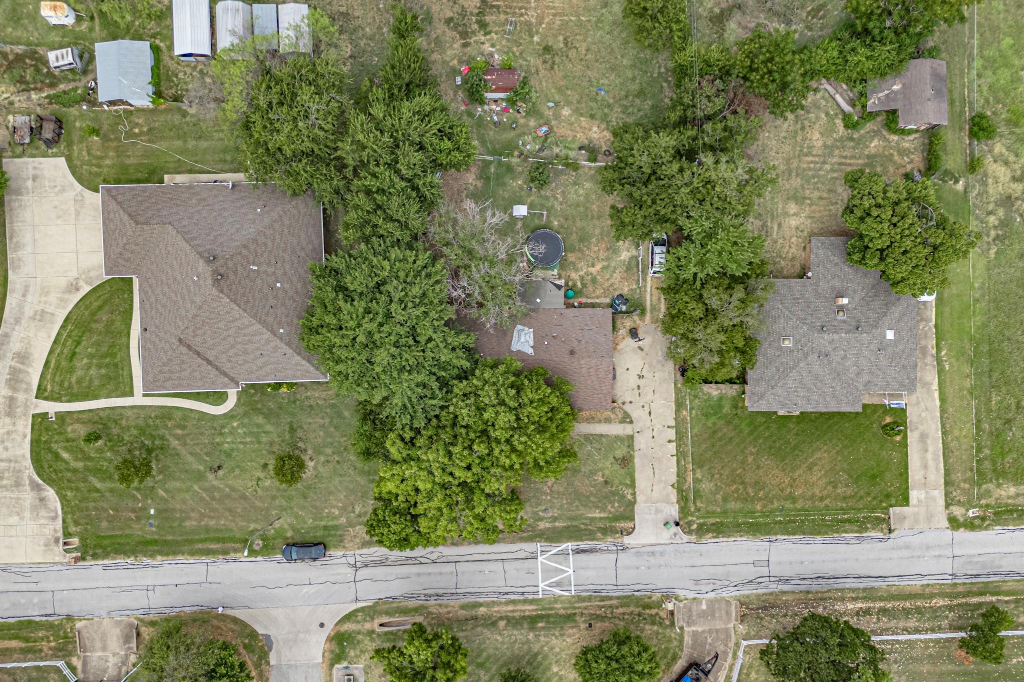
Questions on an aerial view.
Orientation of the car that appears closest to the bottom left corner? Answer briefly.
horizontally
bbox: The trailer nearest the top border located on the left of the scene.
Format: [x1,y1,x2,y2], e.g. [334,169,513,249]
[41,1,86,27]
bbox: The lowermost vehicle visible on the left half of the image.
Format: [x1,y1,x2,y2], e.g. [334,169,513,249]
[282,545,323,565]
